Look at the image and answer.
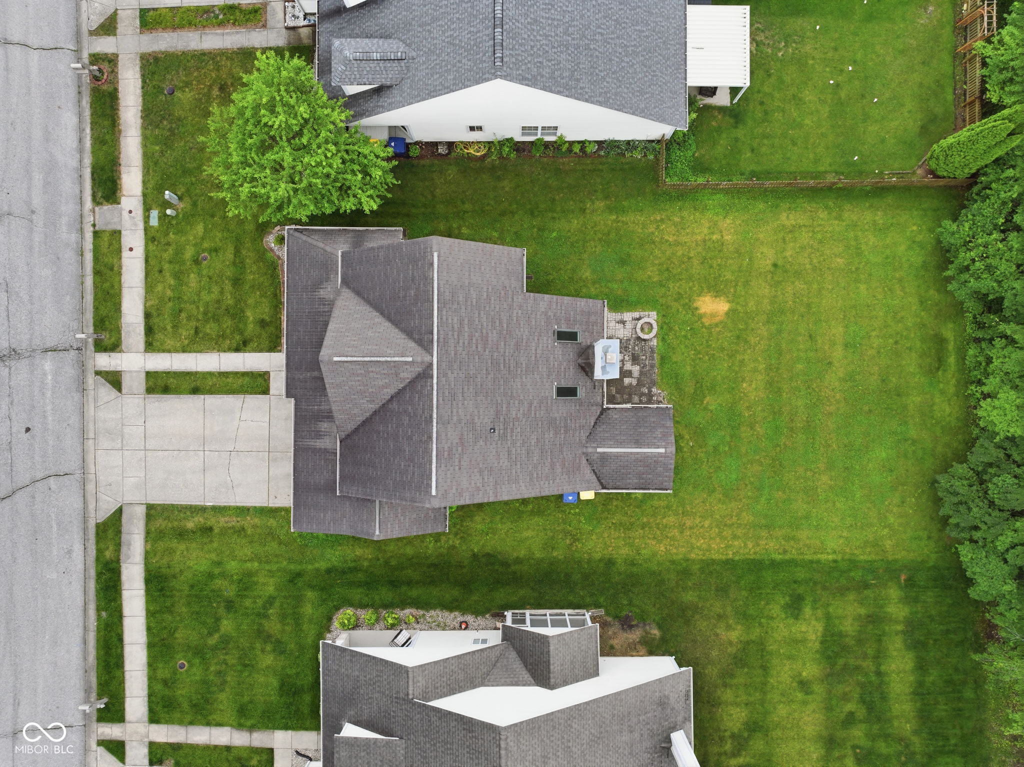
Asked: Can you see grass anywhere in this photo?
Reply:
Yes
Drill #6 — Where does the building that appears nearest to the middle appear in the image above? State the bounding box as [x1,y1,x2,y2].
[283,226,676,541]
